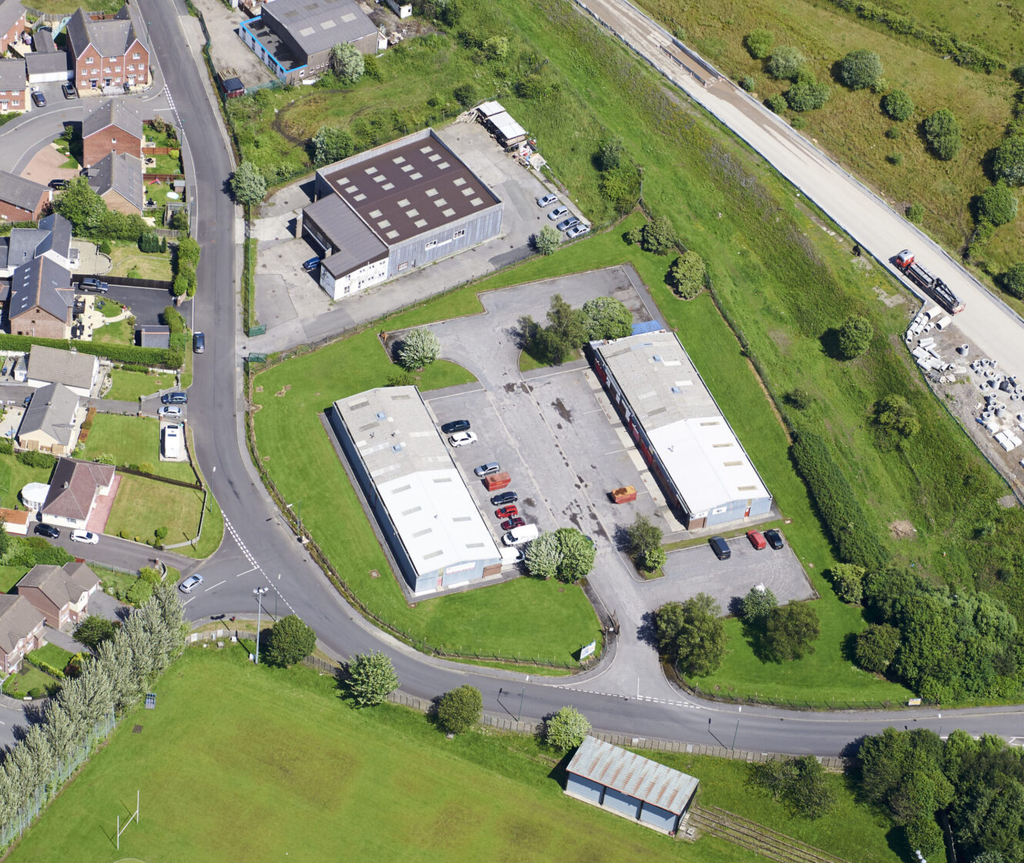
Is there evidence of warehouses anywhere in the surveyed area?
Yes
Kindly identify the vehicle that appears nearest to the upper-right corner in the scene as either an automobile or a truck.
truck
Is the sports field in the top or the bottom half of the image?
bottom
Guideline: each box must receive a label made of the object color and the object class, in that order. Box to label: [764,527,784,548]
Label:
black car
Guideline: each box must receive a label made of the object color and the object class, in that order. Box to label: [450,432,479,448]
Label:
white car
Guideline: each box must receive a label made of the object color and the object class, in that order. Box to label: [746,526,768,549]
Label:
red car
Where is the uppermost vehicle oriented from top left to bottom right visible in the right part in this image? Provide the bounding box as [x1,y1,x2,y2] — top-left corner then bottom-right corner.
[896,251,965,310]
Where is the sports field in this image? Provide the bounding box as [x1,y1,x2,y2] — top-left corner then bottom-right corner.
[0,652,699,863]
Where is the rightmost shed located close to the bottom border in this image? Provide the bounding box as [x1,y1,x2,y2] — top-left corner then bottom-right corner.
[559,736,700,837]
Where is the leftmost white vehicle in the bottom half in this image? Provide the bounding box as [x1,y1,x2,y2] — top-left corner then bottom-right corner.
[70,527,98,543]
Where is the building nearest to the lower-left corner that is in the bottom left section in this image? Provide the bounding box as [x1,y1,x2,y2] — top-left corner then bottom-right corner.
[0,596,50,694]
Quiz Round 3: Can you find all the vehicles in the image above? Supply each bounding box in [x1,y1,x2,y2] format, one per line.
[500,515,529,532]
[556,214,582,230]
[497,543,529,564]
[442,418,471,433]
[709,534,732,559]
[491,490,518,507]
[193,331,206,350]
[29,87,49,105]
[161,391,189,405]
[165,421,180,456]
[450,432,479,448]
[566,221,593,238]
[537,191,561,206]
[547,203,571,220]
[746,526,768,549]
[60,77,78,98]
[70,527,98,543]
[896,251,965,310]
[300,256,324,271]
[764,527,784,548]
[78,277,108,294]
[504,520,541,544]
[494,502,521,519]
[474,460,501,477]
[33,522,61,538]
[155,404,184,418]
